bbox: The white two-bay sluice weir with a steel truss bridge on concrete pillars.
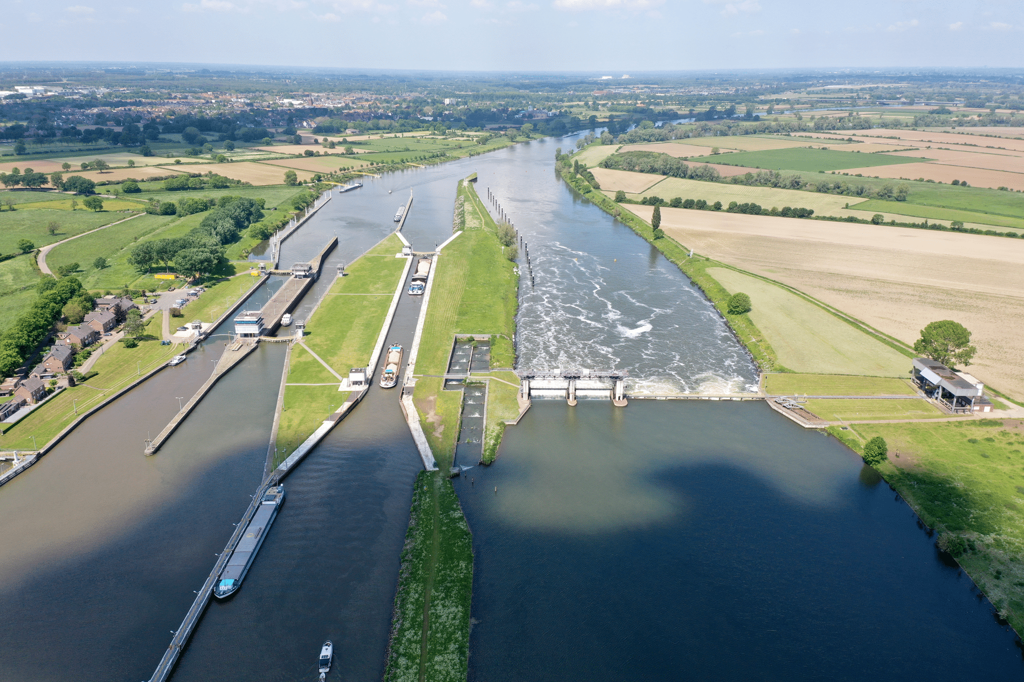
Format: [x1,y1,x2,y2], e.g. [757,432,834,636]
[516,370,629,404]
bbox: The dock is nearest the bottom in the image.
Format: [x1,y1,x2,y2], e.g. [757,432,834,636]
[141,478,272,682]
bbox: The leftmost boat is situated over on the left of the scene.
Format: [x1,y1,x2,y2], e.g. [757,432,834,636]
[167,351,188,365]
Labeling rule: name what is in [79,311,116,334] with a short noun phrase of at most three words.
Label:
house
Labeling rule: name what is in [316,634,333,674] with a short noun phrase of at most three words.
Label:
boat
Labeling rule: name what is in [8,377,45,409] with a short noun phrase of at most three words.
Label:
house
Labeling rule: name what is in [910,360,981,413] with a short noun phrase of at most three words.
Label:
building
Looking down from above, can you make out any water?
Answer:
Yes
